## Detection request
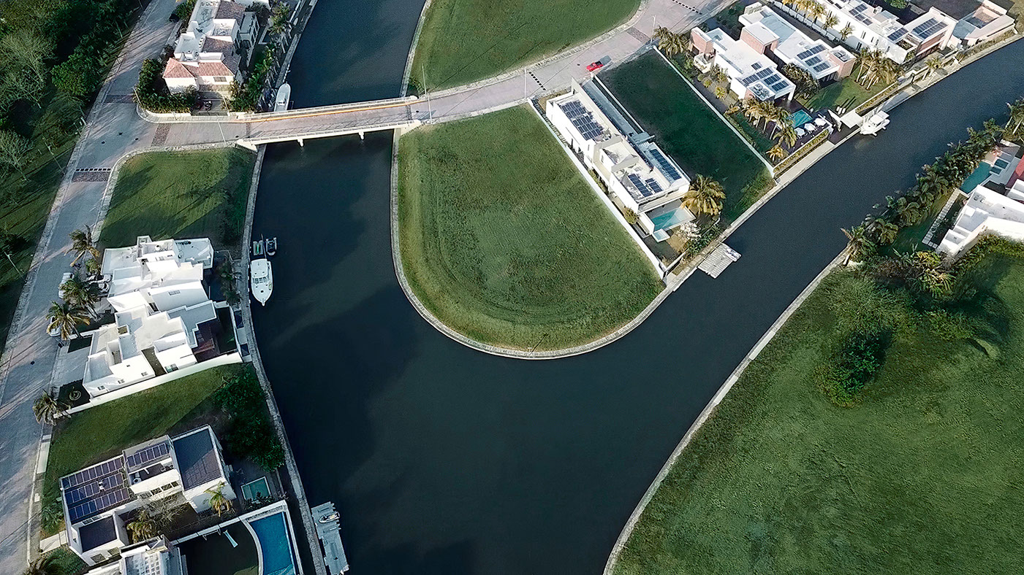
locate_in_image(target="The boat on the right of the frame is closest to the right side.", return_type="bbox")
[861,102,894,132]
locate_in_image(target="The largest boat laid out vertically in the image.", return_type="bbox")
[248,251,272,304]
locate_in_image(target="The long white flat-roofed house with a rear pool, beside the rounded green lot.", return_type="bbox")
[546,78,690,242]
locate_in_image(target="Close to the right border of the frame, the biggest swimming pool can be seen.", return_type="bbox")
[960,162,994,195]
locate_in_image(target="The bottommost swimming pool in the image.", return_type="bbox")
[243,506,298,575]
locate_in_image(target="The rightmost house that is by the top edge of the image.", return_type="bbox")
[948,0,1015,53]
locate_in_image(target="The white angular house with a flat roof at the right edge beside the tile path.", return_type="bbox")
[932,179,1024,267]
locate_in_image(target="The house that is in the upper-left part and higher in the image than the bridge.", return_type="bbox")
[163,0,276,97]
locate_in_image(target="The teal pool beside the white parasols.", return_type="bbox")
[791,108,813,128]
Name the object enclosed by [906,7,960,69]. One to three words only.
house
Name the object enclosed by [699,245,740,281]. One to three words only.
pier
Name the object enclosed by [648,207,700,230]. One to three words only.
swimming pool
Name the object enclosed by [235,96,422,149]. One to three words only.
bridge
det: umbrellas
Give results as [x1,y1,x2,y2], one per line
[793,127,806,136]
[813,117,827,132]
[802,122,816,132]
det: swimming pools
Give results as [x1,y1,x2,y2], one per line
[243,506,298,575]
[960,162,994,195]
[989,165,1004,176]
[648,207,700,230]
[791,108,813,128]
[994,157,1011,170]
[653,225,673,243]
[239,475,272,504]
